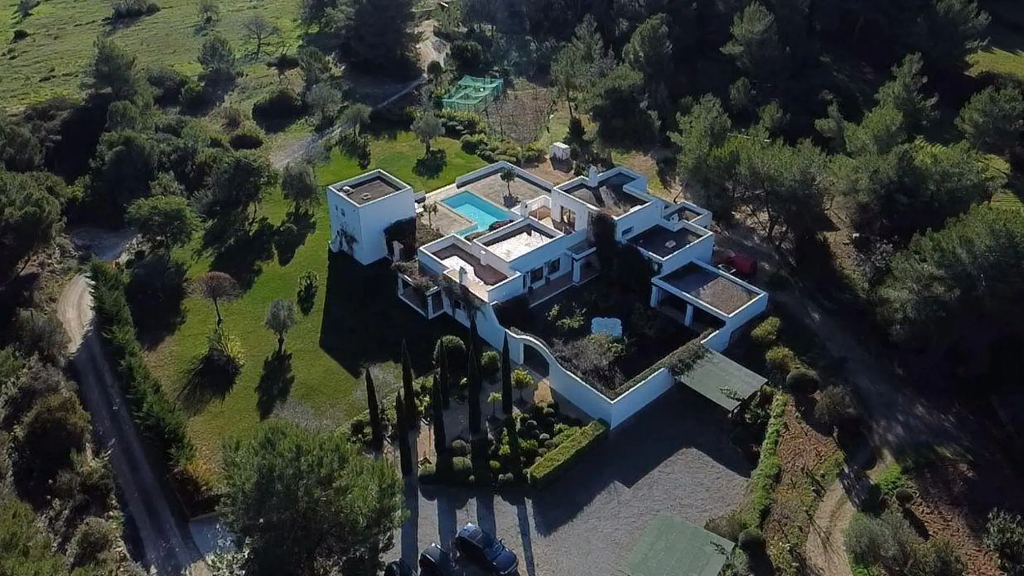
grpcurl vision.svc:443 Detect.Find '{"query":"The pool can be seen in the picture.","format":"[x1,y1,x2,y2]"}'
[438,189,510,244]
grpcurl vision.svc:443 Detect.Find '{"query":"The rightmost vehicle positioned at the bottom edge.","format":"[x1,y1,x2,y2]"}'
[450,517,524,576]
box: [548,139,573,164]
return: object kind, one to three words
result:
shed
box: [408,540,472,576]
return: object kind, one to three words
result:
car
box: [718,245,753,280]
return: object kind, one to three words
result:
van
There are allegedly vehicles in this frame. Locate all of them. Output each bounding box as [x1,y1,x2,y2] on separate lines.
[718,245,753,280]
[450,517,524,576]
[408,540,472,576]
[362,553,409,576]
